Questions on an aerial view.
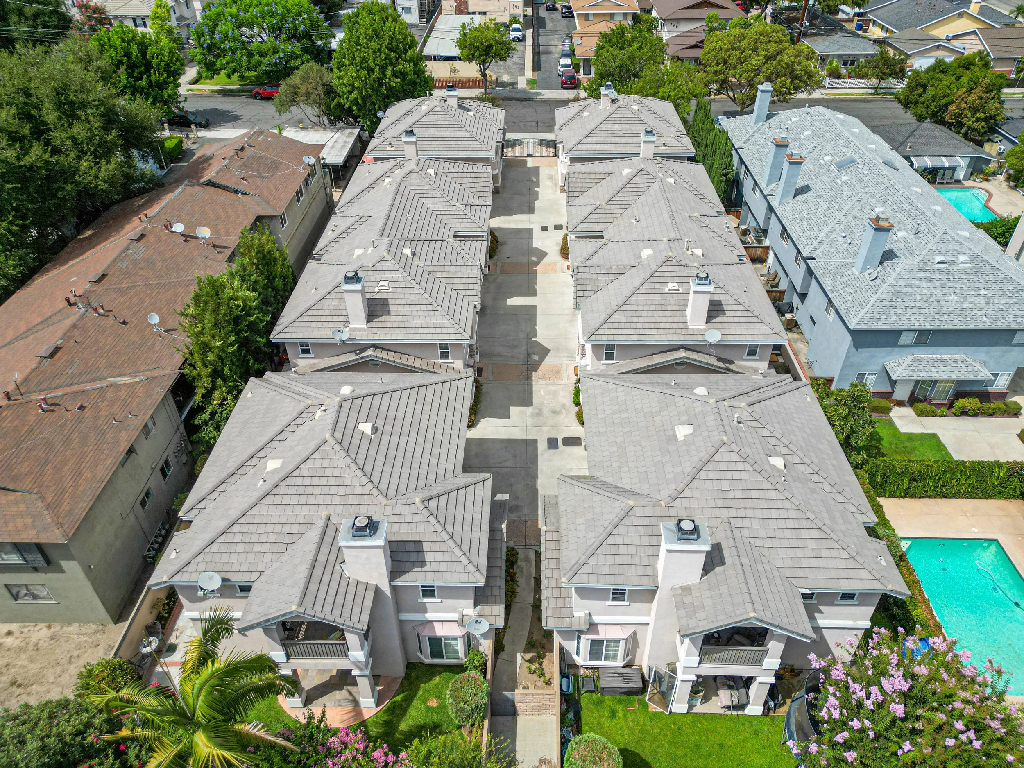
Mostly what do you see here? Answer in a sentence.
The scene is dominated by buildings.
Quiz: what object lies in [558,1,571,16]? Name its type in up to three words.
vehicle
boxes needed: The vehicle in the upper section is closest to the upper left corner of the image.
[163,107,213,125]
